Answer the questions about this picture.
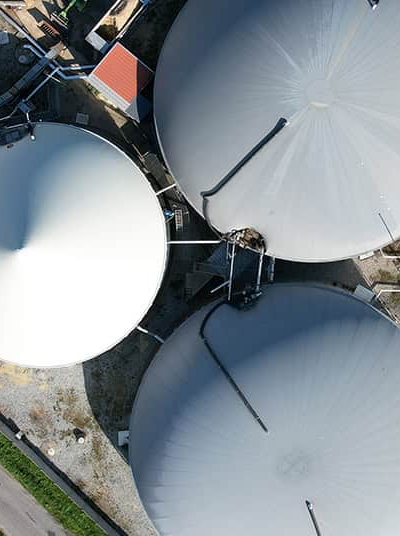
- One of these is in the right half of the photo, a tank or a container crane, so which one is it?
tank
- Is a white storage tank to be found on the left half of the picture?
Yes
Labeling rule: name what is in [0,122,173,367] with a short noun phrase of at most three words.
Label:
storage tank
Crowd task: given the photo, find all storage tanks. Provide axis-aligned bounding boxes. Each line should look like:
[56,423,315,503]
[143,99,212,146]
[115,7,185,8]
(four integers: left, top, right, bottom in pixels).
[130,281,400,536]
[0,122,173,367]
[155,0,400,261]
